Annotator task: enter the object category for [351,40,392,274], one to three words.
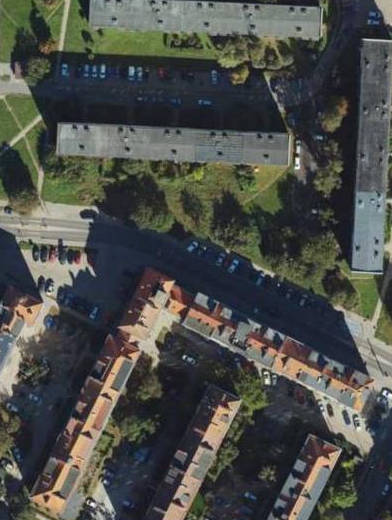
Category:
building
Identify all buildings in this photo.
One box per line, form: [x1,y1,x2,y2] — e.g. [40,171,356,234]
[145,385,243,520]
[90,0,322,44]
[28,337,139,516]
[351,40,392,274]
[268,434,342,520]
[57,123,291,169]
[110,272,175,351]
[179,293,374,412]
[0,289,38,388]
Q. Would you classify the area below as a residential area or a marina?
residential area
